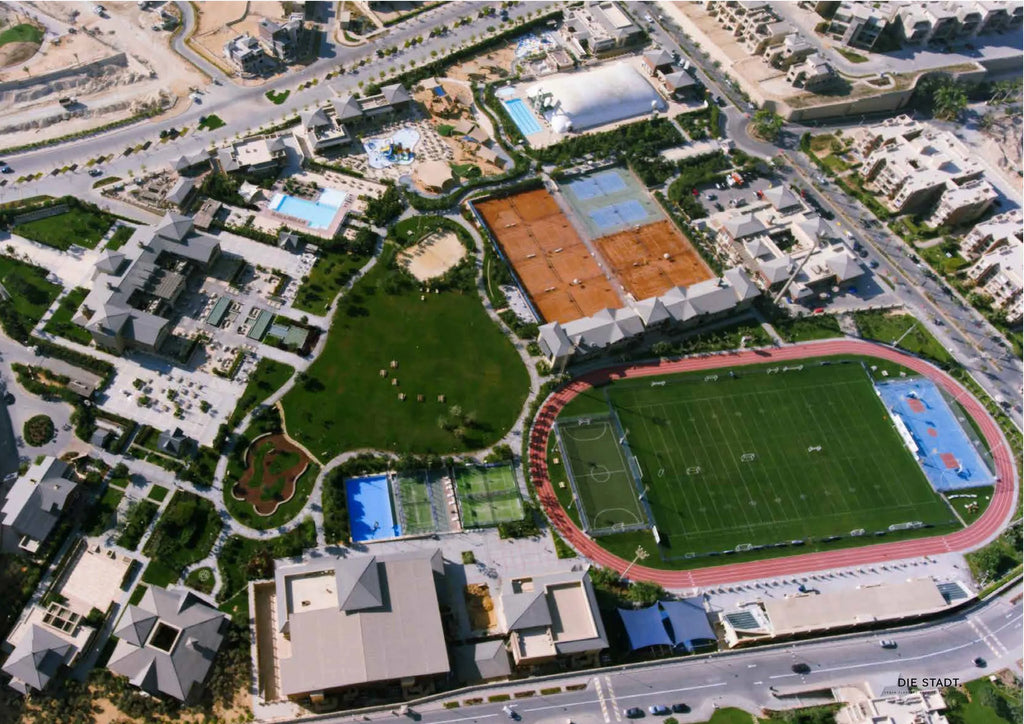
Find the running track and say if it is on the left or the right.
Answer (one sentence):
The running track is on the right side of the image.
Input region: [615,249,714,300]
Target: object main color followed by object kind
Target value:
orange tennis court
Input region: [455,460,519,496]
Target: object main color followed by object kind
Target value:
green sports court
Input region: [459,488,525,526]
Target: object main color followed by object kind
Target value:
green sports court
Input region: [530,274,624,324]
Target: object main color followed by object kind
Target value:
orange tennis court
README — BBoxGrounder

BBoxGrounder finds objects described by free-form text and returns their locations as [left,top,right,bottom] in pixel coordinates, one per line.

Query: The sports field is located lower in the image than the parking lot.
[611,360,958,561]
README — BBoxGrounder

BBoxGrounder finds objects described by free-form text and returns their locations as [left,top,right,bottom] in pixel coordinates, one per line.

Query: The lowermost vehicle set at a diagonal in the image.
[503,705,519,720]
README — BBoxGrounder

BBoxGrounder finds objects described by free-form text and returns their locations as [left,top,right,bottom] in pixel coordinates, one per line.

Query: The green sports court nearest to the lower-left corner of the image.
[399,477,435,534]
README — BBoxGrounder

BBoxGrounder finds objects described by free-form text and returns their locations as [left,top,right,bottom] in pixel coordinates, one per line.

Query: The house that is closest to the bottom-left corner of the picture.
[2,601,97,693]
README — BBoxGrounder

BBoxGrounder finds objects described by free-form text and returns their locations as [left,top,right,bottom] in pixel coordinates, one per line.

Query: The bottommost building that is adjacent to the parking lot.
[537,265,762,366]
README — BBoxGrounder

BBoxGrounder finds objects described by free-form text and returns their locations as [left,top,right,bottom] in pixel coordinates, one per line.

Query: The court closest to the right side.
[877,377,994,490]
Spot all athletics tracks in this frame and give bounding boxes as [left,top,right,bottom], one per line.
[530,341,1015,587]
